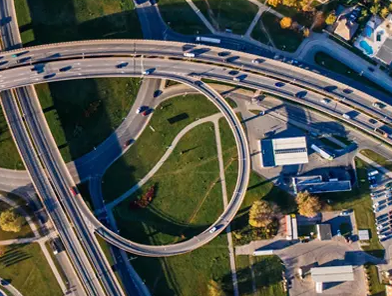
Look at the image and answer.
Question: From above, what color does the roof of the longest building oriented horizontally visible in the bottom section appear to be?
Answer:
blue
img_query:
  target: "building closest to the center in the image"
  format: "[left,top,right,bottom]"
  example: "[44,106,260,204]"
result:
[258,139,275,167]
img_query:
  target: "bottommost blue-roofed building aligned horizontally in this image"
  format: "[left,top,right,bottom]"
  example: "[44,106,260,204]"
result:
[290,175,352,195]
